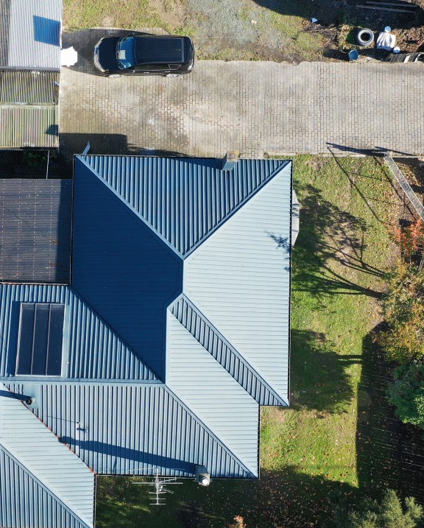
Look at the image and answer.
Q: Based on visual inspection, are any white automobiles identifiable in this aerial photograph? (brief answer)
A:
No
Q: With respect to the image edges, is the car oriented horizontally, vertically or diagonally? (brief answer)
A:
horizontally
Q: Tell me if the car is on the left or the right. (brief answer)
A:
left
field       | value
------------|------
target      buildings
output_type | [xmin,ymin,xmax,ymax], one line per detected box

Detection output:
[0,145,297,528]
[0,0,62,155]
